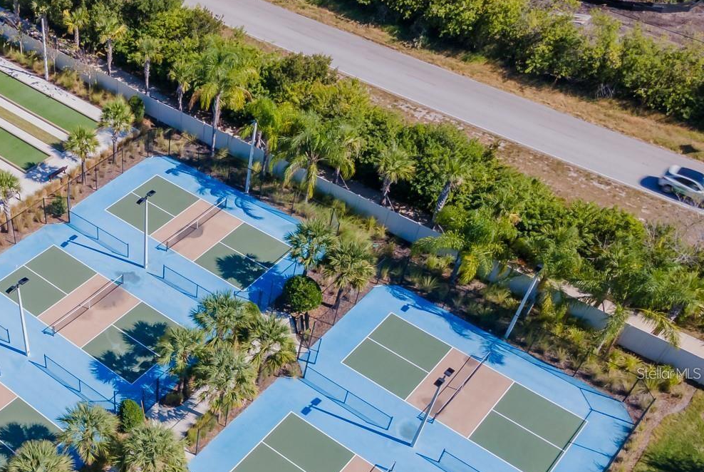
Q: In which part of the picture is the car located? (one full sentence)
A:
You can find the car in the right area of the picture.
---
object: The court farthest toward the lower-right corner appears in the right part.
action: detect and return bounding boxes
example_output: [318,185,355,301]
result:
[343,314,585,472]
